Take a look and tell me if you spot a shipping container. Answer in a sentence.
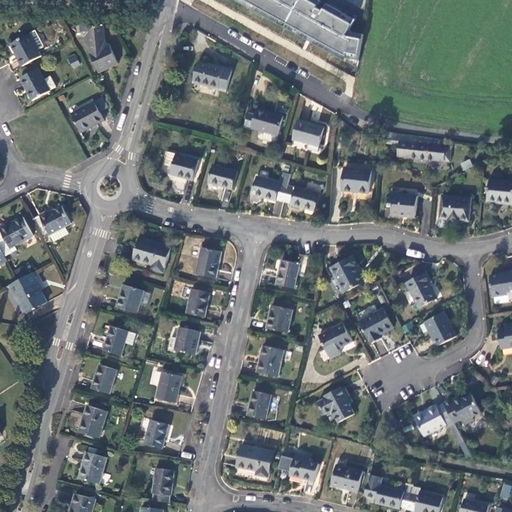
No, no shipping container is visible in the view.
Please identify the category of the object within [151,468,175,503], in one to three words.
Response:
house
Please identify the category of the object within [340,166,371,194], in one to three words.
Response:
house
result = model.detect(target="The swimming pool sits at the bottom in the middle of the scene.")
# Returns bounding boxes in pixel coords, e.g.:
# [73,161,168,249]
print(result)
[268,392,282,422]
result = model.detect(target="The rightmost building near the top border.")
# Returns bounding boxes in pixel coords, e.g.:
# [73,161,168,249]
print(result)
[242,0,364,62]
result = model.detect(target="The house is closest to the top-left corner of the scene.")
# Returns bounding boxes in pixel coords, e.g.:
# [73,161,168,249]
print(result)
[10,30,43,65]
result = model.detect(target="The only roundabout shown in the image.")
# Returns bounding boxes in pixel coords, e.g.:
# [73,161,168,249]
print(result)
[84,162,136,214]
